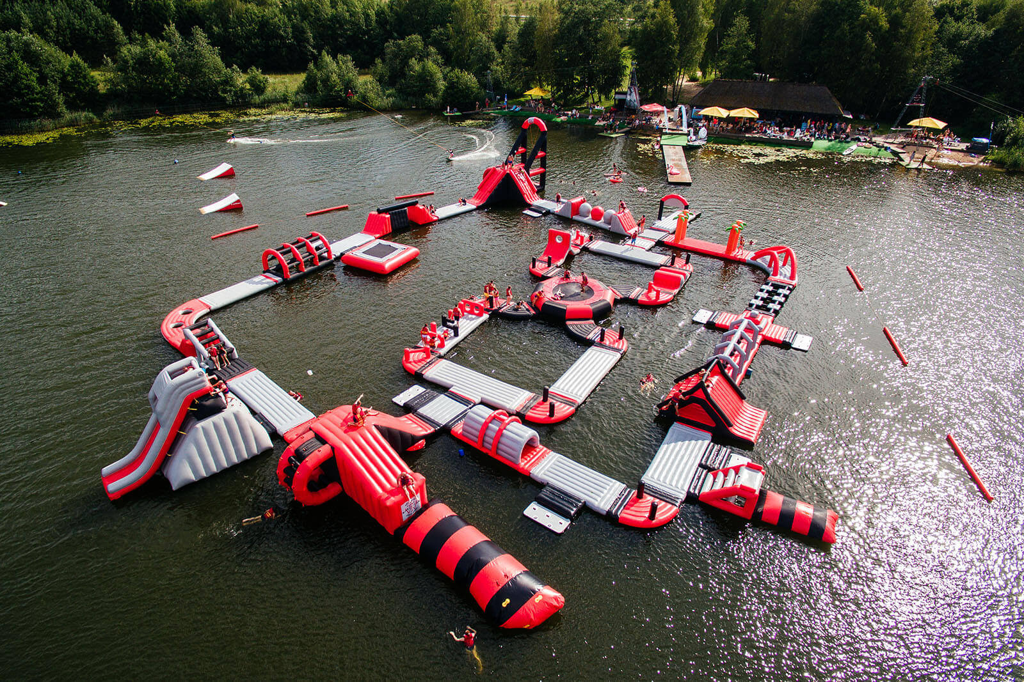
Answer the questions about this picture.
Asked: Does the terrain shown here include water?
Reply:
Yes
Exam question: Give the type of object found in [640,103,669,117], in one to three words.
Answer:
umbrella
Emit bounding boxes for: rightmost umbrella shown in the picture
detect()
[906,117,963,131]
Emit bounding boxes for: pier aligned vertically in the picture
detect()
[661,131,692,188]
